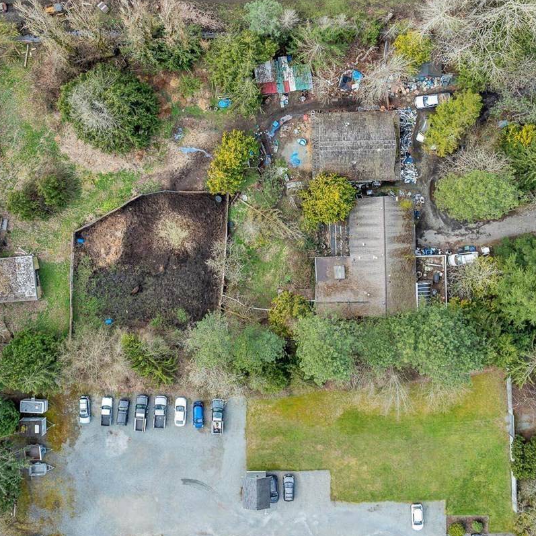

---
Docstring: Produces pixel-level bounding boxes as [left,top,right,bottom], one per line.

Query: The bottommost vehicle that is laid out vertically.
[410,501,425,531]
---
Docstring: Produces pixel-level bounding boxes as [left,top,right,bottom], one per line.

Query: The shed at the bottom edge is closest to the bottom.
[242,471,270,514]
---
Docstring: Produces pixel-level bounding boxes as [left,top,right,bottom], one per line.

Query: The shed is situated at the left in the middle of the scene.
[0,255,41,303]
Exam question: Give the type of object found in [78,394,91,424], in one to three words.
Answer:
vehicle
